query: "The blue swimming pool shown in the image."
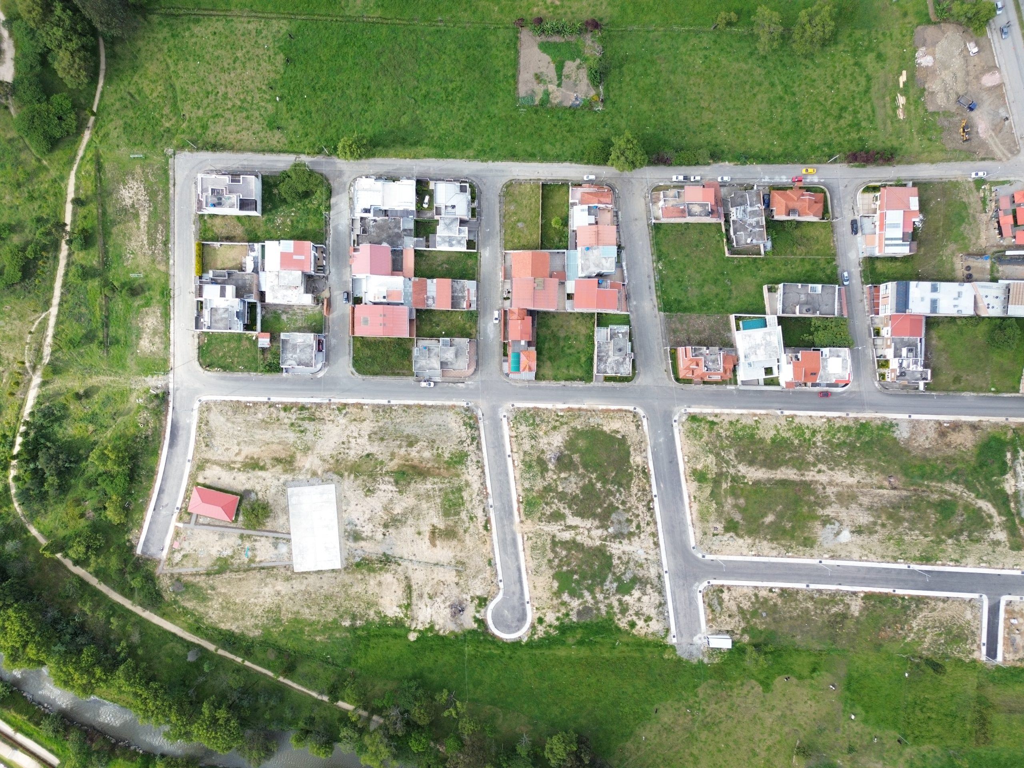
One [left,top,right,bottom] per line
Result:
[741,317,768,331]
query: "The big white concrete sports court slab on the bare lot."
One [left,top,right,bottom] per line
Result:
[288,485,341,572]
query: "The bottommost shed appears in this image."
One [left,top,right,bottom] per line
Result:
[706,633,732,648]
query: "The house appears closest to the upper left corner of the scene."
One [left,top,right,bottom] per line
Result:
[195,174,262,216]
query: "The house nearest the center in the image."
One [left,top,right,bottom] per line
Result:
[503,341,536,380]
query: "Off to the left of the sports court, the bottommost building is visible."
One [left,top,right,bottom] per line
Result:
[187,486,242,522]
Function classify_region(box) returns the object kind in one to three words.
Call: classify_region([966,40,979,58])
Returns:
vehicle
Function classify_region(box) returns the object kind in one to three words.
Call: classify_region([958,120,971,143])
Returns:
vehicle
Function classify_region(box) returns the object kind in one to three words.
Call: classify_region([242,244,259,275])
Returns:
shed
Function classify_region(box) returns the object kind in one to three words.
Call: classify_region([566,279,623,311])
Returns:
house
